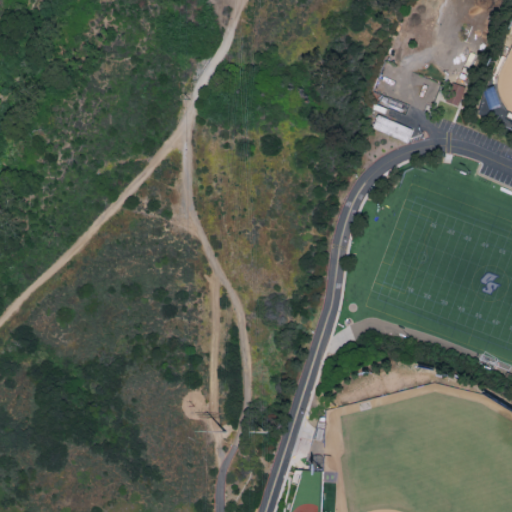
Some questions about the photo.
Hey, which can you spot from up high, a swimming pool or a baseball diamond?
baseball diamond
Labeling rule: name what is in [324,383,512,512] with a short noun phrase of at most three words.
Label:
baseball field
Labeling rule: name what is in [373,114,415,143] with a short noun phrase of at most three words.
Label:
building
